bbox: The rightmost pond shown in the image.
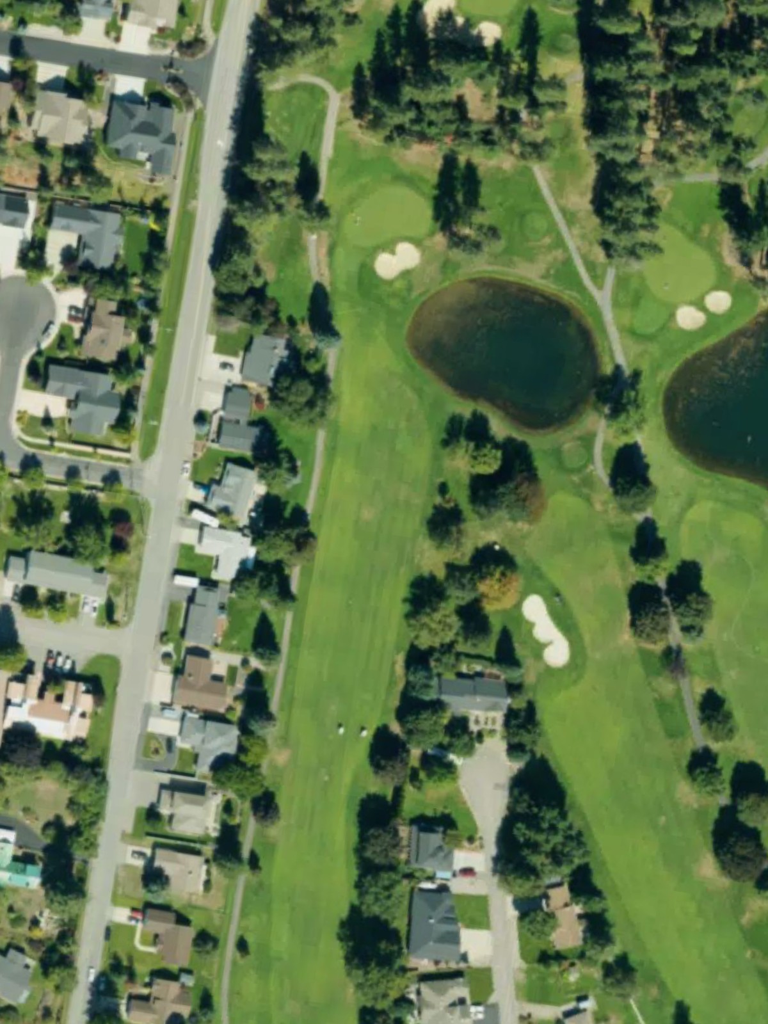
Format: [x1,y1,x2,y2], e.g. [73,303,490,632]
[664,314,768,483]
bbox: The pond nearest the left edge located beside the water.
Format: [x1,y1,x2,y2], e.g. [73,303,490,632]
[410,278,600,429]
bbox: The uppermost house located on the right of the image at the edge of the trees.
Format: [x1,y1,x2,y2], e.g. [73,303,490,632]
[440,676,510,716]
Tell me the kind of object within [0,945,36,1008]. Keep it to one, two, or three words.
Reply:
house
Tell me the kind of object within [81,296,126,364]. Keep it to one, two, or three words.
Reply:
house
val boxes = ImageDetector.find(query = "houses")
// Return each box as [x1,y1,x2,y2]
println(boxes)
[0,829,43,891]
[0,945,36,1008]
[50,200,125,270]
[33,90,91,146]
[206,460,260,525]
[79,0,114,20]
[218,385,259,451]
[126,978,195,1024]
[185,584,219,646]
[124,0,178,27]
[410,823,453,872]
[545,883,585,951]
[418,978,474,1024]
[81,296,126,364]
[44,364,120,438]
[440,676,510,716]
[0,82,15,135]
[410,888,464,962]
[179,715,240,773]
[106,100,177,176]
[0,674,94,744]
[197,524,249,585]
[152,850,204,894]
[172,653,228,713]
[143,907,196,969]
[158,788,214,836]
[5,552,108,594]
[243,333,284,384]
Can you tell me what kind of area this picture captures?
golf course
